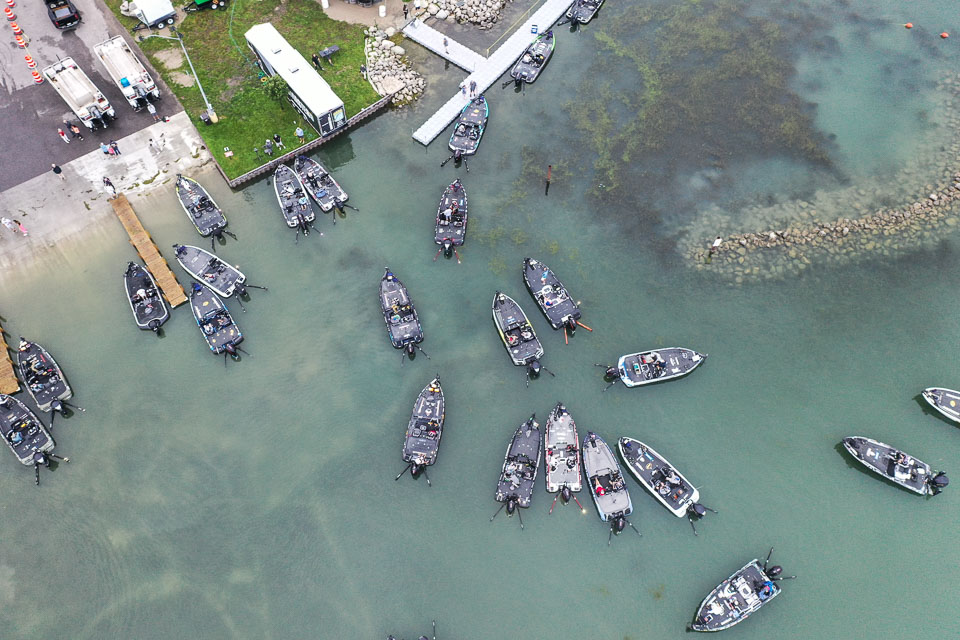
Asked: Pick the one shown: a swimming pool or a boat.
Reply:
boat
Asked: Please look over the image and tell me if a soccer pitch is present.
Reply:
No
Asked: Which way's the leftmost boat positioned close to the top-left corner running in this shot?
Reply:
diagonally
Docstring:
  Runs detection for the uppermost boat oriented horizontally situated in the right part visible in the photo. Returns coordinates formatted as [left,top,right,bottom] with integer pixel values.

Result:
[598,345,712,392]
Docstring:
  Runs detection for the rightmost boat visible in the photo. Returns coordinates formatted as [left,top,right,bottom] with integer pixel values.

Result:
[922,386,960,426]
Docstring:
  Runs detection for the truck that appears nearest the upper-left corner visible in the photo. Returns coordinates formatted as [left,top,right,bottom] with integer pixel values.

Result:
[46,0,78,28]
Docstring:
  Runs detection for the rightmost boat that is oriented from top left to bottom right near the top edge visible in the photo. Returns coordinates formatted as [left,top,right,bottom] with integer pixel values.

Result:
[92,28,164,114]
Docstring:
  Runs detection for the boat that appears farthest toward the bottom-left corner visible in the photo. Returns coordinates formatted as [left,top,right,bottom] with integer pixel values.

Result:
[0,390,69,482]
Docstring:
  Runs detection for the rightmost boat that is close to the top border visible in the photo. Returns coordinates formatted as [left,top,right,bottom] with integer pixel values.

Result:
[557,0,608,35]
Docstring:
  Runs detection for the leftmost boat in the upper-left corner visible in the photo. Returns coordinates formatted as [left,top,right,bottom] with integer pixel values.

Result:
[40,51,117,134]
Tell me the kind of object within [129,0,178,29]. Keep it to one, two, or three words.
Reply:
trailer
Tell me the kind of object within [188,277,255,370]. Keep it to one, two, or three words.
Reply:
boat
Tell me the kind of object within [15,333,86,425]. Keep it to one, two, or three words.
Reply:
boat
